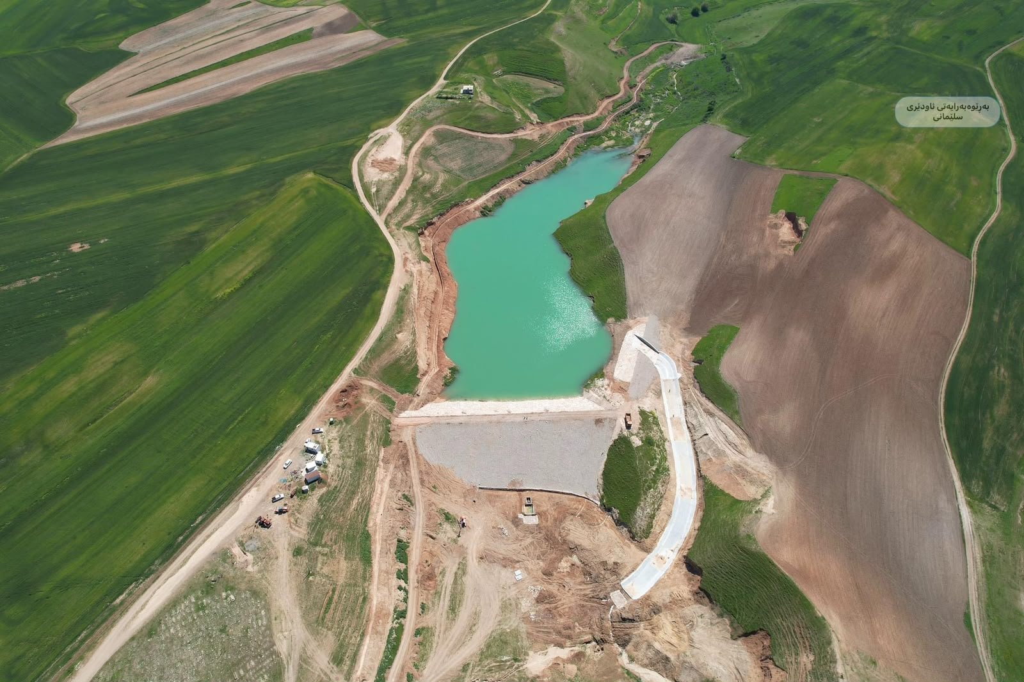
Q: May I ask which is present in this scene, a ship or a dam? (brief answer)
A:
dam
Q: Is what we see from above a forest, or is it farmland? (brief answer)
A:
farmland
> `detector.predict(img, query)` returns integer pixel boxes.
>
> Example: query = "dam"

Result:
[393,397,622,505]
